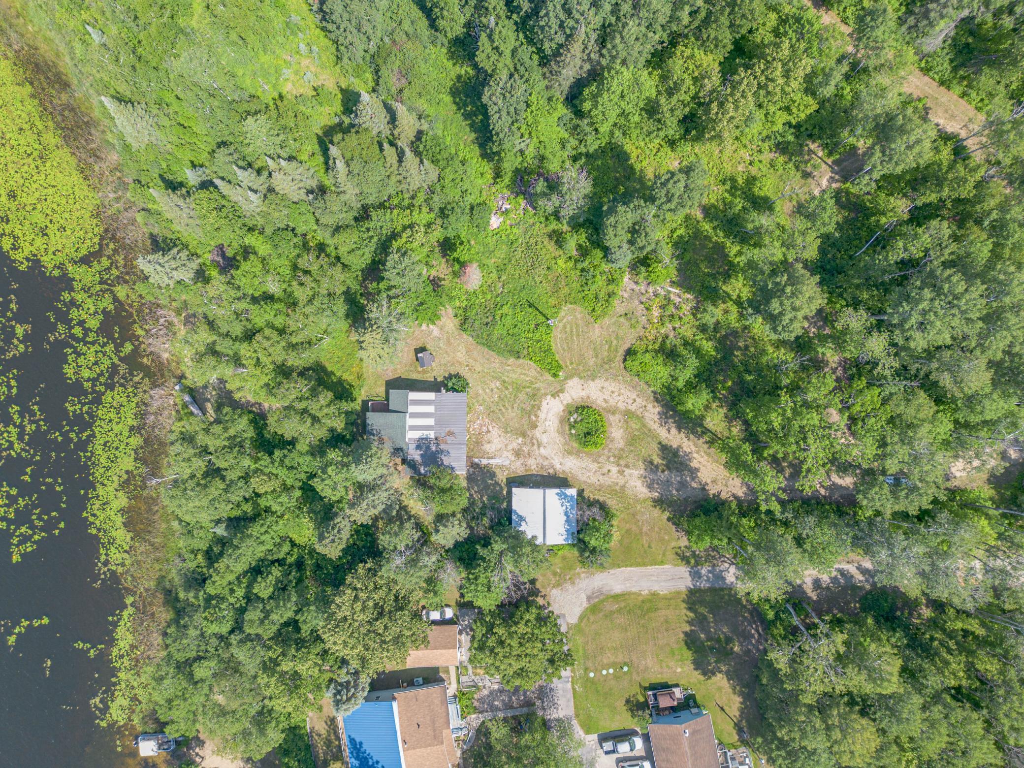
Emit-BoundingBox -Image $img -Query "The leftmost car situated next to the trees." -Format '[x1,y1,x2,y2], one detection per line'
[422,607,453,623]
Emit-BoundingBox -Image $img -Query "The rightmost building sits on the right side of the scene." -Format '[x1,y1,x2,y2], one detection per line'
[647,708,720,768]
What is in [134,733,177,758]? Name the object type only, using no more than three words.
boat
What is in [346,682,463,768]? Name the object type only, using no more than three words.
house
